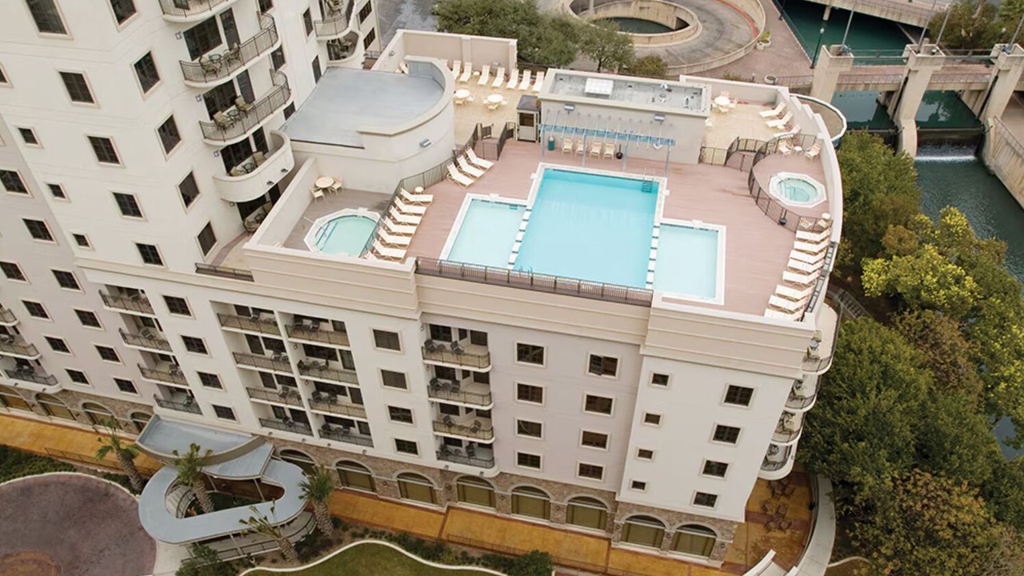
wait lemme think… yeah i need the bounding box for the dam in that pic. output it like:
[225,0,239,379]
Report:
[778,42,1024,174]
